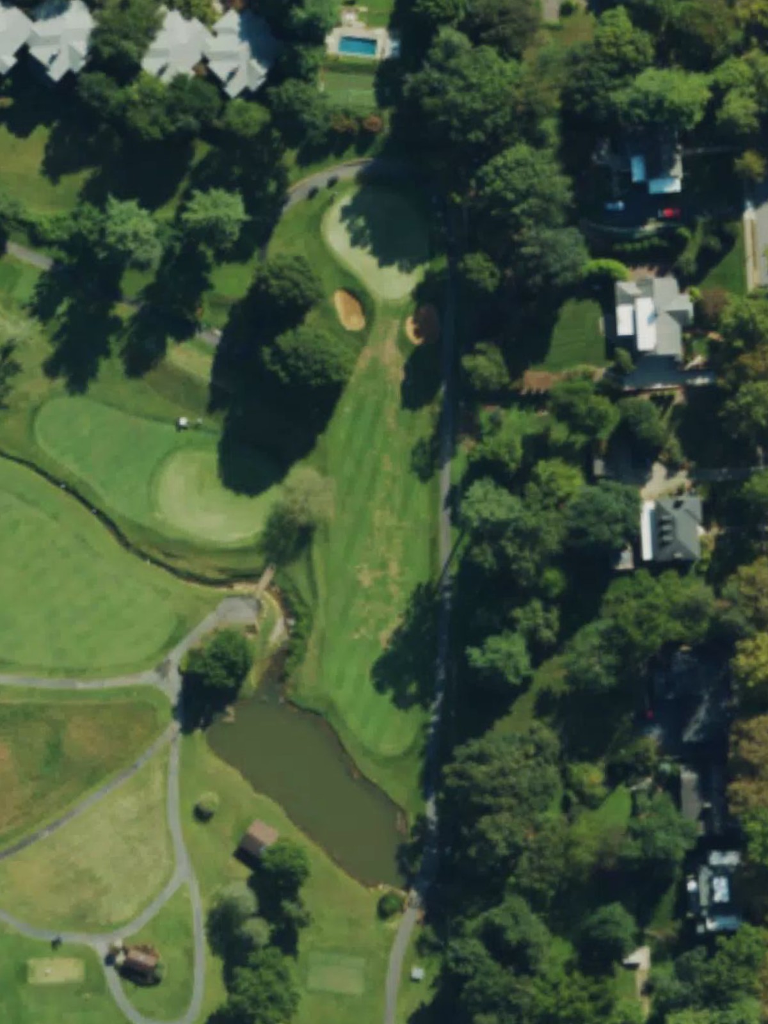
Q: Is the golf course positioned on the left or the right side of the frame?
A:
left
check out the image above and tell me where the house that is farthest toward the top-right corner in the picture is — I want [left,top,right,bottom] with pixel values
[628,134,682,194]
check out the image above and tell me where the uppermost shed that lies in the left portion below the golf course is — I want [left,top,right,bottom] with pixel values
[235,818,272,855]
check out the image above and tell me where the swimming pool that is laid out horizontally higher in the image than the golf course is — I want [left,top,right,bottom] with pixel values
[339,38,375,53]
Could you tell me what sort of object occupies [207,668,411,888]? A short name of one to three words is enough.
pond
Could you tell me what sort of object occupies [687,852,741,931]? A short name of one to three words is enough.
house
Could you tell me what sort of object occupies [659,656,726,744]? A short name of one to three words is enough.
house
